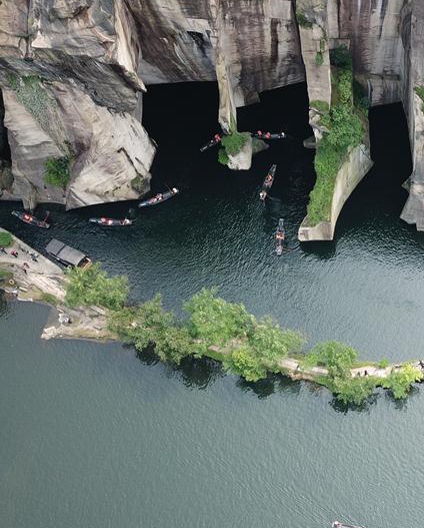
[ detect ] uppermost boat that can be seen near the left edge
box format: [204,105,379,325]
[13,211,51,228]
